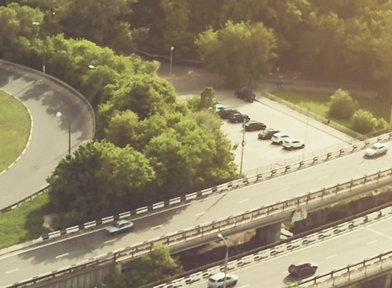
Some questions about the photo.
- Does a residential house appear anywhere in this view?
No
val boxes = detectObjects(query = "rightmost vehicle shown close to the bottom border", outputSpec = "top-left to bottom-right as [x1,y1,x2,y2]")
[285,263,319,278]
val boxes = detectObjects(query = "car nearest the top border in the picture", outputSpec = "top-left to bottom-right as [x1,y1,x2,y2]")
[233,85,258,102]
